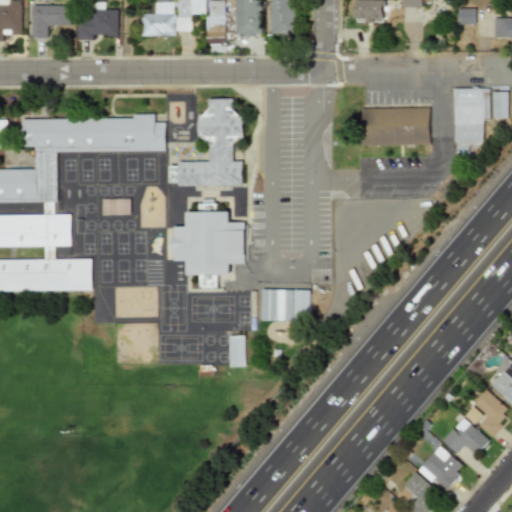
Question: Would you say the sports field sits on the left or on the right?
left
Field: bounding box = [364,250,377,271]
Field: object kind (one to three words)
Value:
vehicle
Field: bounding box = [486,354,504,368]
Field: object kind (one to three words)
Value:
swimming pool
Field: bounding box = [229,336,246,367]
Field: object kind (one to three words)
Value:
building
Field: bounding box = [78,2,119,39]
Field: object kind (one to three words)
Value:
house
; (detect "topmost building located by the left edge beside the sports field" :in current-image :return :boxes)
[0,114,166,202]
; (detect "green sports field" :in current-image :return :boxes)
[0,290,257,512]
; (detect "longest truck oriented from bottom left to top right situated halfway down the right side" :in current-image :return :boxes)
[409,281,434,310]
